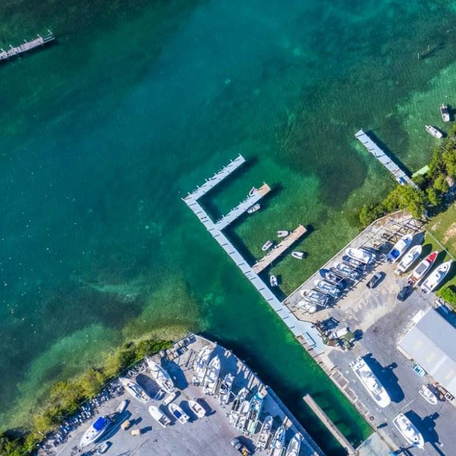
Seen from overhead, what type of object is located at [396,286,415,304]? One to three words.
car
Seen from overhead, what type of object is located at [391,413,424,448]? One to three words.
boat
